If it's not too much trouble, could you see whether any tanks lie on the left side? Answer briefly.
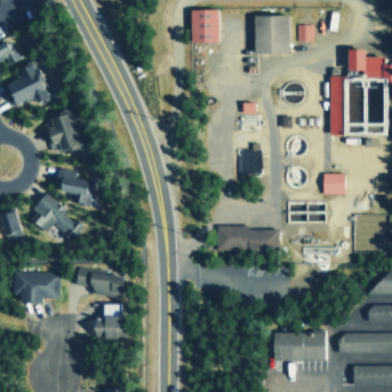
No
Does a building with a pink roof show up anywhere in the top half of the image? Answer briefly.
Yes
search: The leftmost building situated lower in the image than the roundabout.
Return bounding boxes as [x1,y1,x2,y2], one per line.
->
[0,208,26,240]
